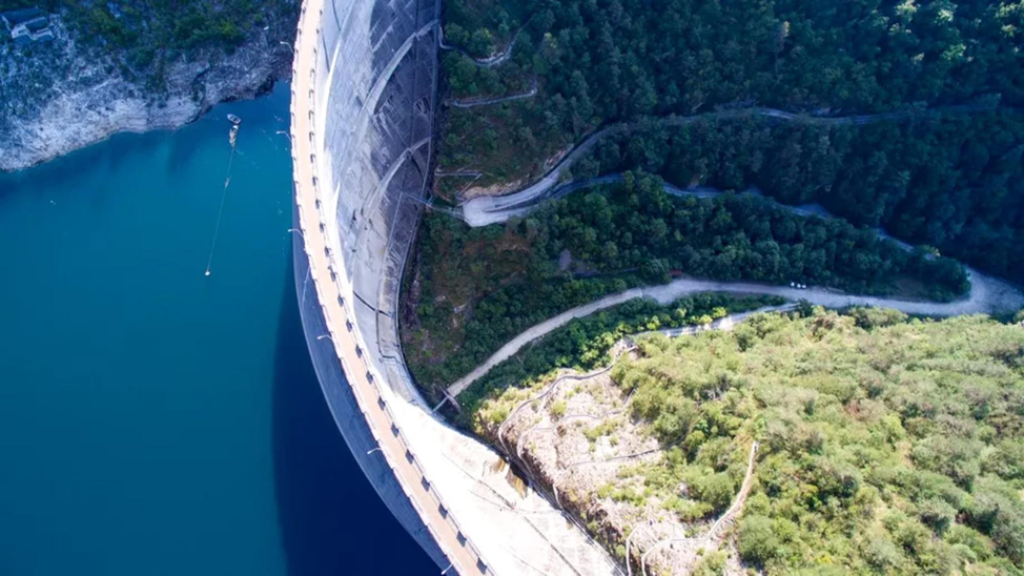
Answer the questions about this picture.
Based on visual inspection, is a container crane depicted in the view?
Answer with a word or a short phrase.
No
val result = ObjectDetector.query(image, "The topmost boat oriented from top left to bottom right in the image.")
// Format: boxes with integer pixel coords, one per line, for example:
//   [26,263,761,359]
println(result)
[228,114,242,127]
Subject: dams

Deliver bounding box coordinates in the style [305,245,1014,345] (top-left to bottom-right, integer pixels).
[288,0,633,576]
